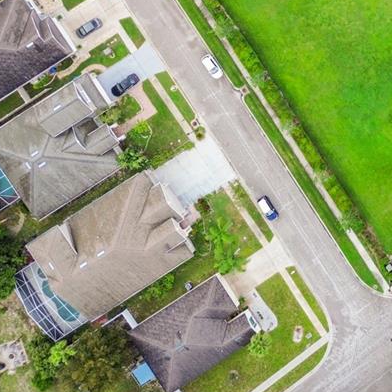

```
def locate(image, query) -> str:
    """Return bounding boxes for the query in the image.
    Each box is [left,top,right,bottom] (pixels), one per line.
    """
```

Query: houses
[0,0,76,101]
[25,170,198,323]
[0,73,124,222]
[127,271,260,392]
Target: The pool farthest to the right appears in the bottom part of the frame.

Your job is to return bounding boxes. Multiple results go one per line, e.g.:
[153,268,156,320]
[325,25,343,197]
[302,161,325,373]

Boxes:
[42,281,79,322]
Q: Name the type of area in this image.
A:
residential area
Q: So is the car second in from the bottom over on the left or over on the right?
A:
left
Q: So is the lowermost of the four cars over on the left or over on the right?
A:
right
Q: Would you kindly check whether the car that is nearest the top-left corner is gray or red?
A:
gray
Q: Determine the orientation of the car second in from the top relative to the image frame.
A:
at an angle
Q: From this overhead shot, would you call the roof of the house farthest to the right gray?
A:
Yes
